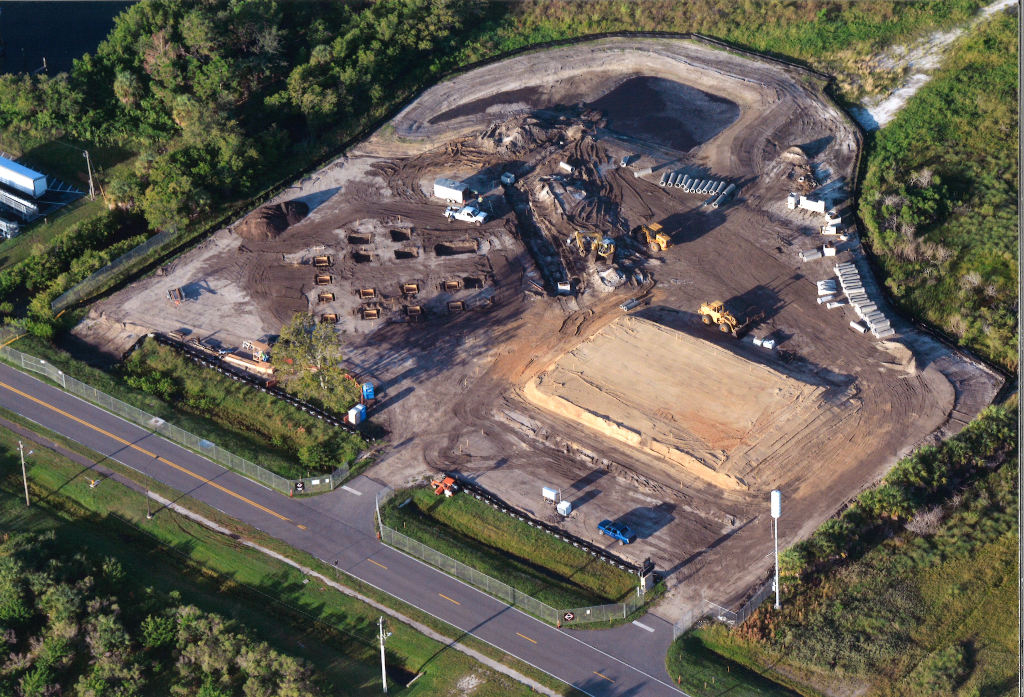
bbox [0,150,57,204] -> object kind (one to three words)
trailer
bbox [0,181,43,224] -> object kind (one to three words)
trailer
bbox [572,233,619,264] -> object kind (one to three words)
work vehicle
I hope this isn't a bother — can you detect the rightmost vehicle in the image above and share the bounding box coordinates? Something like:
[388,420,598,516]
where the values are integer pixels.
[698,300,756,339]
